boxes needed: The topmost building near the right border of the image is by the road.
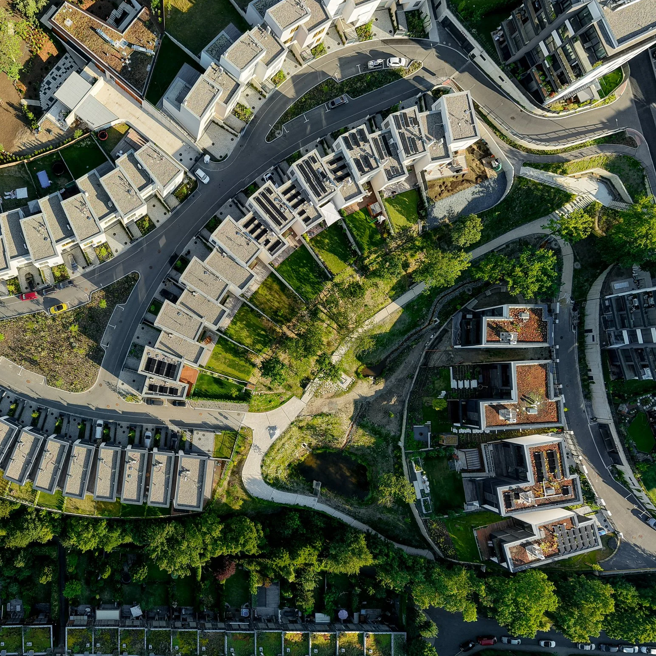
[487,0,656,111]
